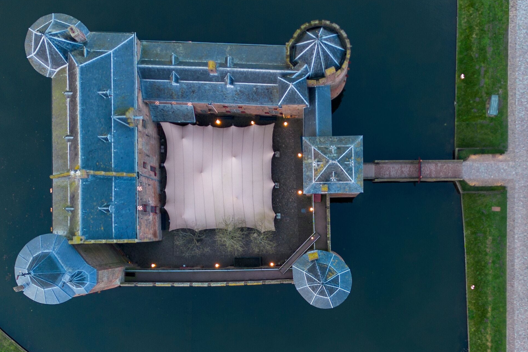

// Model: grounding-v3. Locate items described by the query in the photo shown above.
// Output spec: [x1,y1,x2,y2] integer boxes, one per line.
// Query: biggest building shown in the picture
[14,13,364,309]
